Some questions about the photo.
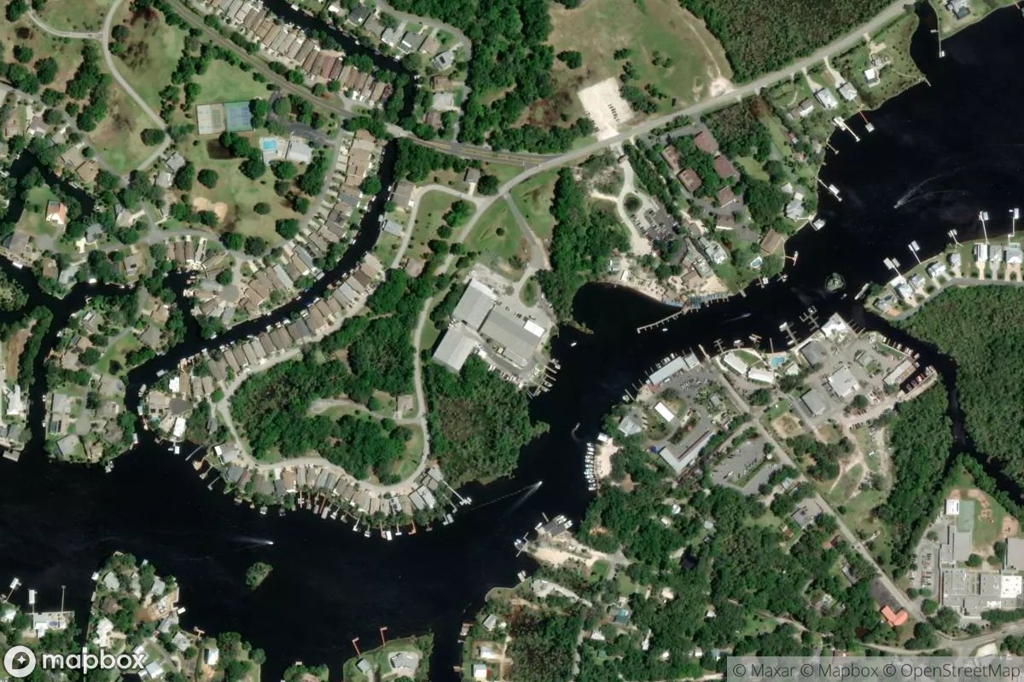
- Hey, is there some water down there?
Yes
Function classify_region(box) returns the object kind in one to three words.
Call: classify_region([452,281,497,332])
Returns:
shed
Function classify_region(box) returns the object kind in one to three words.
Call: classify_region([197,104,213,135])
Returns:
sports court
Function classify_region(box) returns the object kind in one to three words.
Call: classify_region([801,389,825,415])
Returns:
building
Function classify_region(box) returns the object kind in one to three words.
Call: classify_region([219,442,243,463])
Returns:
house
